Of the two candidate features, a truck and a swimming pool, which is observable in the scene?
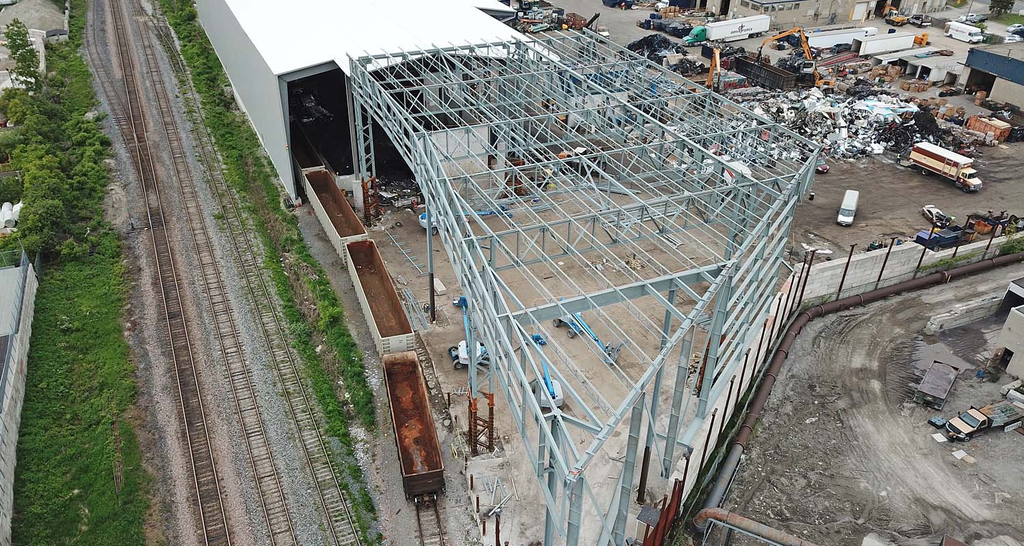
truck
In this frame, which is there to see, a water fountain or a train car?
train car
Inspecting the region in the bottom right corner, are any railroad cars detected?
No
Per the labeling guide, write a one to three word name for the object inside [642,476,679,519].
shed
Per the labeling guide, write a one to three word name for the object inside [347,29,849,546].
building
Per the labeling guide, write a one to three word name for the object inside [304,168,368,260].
rail car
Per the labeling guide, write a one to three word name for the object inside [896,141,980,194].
truck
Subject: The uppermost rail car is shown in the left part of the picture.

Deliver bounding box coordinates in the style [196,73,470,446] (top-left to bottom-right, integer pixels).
[293,116,327,185]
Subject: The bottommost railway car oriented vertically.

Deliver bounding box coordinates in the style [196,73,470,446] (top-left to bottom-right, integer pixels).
[383,352,446,508]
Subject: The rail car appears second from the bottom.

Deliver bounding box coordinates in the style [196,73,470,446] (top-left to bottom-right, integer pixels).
[345,239,417,369]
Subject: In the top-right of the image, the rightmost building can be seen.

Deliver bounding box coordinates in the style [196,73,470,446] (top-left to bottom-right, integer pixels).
[959,41,1024,113]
